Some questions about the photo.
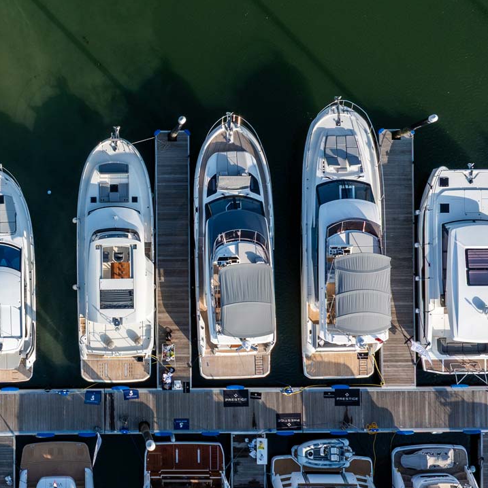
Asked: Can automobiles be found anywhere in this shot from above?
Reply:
No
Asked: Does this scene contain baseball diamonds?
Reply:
No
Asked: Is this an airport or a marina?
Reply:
marina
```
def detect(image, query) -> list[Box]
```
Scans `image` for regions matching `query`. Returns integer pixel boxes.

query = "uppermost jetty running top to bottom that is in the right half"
[377,127,416,386]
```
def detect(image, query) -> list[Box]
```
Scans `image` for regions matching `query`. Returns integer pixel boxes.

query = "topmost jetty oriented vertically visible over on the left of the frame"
[153,128,193,388]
